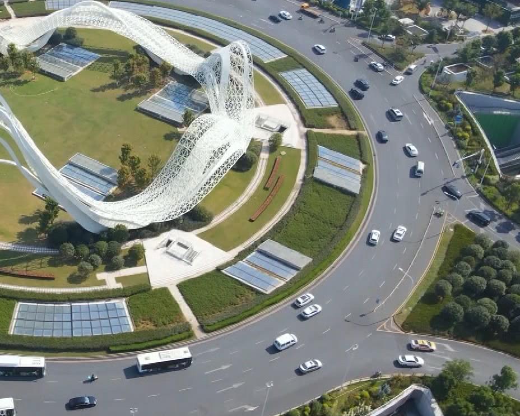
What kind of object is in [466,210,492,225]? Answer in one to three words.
vehicle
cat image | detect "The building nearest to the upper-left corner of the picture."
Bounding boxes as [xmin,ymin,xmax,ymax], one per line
[37,42,100,83]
